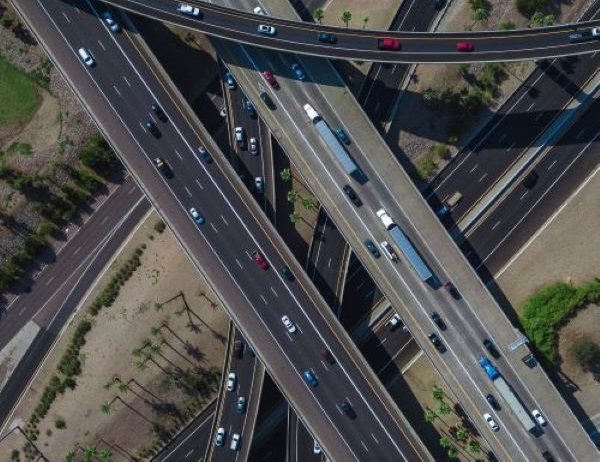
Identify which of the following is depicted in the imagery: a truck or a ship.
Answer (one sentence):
There is a truck in the scene.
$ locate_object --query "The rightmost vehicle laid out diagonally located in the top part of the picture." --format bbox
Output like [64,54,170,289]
[523,172,539,188]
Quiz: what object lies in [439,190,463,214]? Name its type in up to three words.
truck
